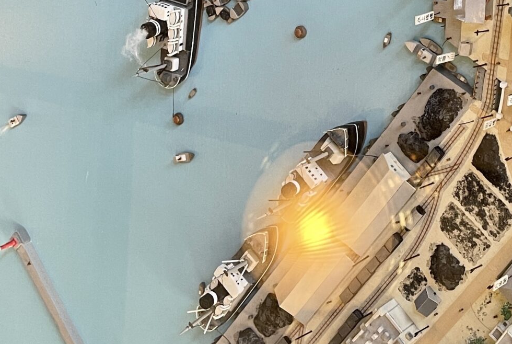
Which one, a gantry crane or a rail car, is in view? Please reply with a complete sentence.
Visible in the photo is a rail car.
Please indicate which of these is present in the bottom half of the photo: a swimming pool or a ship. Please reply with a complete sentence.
Looking in the bottom half of the photo, you will find a ship.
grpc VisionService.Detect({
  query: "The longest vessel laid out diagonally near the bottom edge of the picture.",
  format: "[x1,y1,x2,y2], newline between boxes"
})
[184,222,301,338]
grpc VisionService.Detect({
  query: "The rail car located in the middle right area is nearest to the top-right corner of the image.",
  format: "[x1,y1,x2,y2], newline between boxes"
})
[427,143,447,161]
